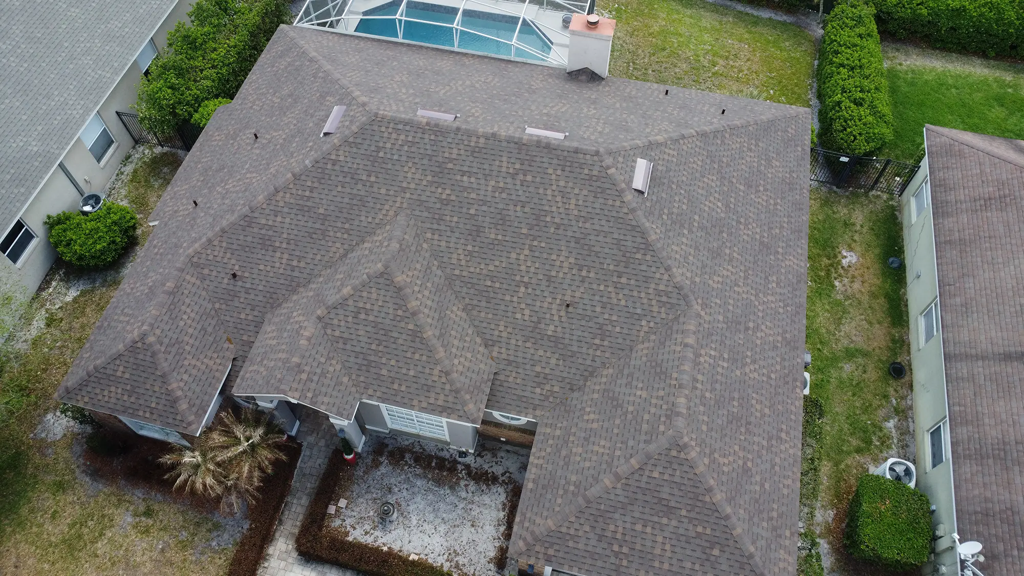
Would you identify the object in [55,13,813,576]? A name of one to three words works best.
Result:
house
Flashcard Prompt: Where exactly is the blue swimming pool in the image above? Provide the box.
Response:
[351,0,553,63]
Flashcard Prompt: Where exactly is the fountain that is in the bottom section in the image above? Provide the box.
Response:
[376,498,394,516]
